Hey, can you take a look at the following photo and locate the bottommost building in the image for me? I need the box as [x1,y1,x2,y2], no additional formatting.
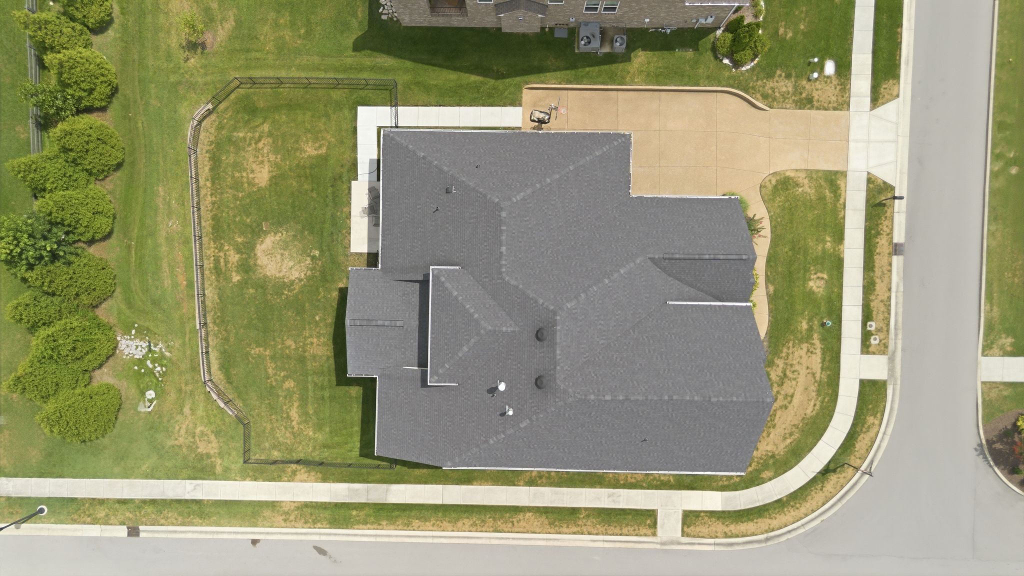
[345,127,775,475]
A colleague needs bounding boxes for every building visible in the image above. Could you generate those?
[345,127,775,475]
[382,0,749,32]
